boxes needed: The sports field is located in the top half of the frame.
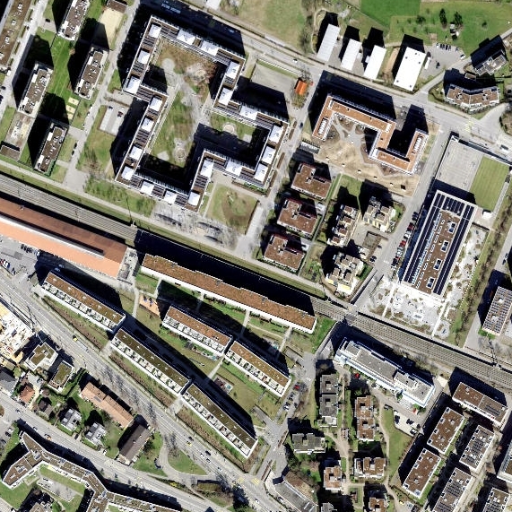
[471,157,509,210]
